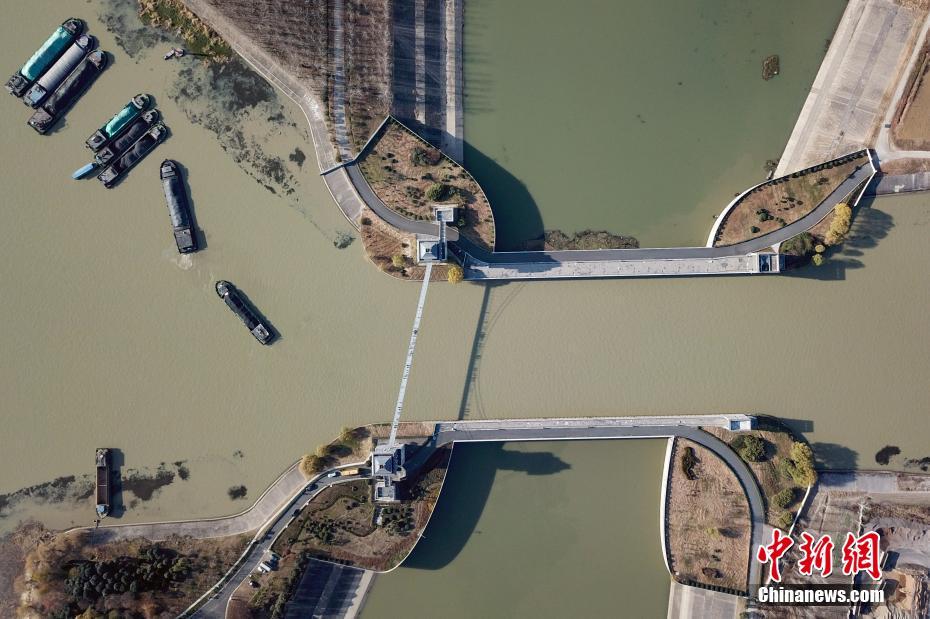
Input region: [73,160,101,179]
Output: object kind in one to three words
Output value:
boat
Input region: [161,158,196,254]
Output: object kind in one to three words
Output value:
ship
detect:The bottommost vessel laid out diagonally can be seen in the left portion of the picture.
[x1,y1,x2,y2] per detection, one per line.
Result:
[216,280,273,347]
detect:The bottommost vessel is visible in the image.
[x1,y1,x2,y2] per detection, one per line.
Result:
[96,447,112,517]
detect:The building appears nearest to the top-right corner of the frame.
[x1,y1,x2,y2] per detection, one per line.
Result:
[746,254,781,273]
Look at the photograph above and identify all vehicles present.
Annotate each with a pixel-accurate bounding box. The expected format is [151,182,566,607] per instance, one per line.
[249,580,258,587]
[259,562,272,572]
[269,554,280,562]
[327,472,338,477]
[307,485,316,492]
[257,567,265,575]
[882,123,894,129]
[340,467,360,475]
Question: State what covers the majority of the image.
water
